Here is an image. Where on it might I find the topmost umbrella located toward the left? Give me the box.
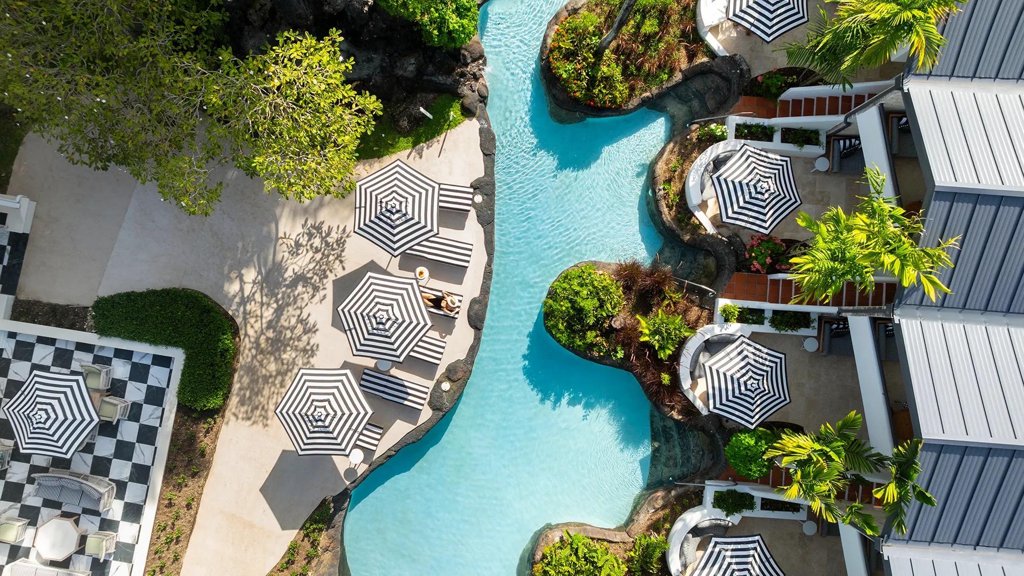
[351,162,437,260]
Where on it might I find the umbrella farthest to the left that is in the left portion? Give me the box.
[2,366,105,458]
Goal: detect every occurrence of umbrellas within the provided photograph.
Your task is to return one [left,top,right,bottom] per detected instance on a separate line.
[2,366,105,458]
[705,144,799,235]
[273,365,372,453]
[336,271,431,363]
[690,530,788,576]
[351,162,437,260]
[704,334,792,430]
[728,0,809,42]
